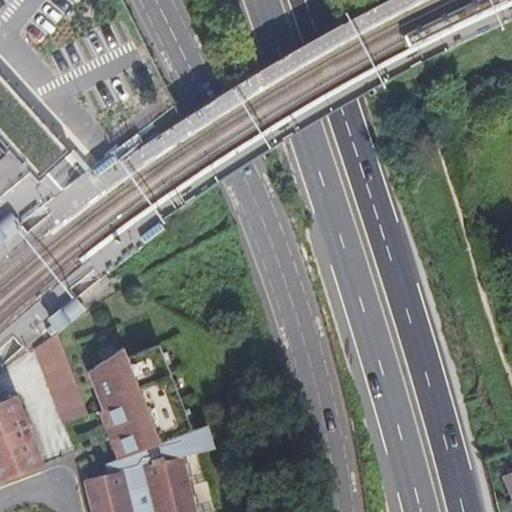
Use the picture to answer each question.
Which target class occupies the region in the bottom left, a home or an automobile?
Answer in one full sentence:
You can see a home in the bottom left.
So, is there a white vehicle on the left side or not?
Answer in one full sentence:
Yes, looking on the left side, one can make out a white vehicle.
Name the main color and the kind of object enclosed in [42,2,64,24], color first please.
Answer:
white car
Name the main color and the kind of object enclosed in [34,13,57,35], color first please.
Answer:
white car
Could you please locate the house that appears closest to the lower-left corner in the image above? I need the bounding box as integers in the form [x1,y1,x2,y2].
[0,396,44,484]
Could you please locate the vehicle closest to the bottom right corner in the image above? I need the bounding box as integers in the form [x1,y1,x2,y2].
[445,425,460,449]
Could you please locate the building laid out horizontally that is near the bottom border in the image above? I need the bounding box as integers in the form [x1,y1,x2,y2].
[84,458,199,512]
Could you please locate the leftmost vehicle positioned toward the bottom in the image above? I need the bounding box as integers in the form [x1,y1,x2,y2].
[323,408,338,432]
